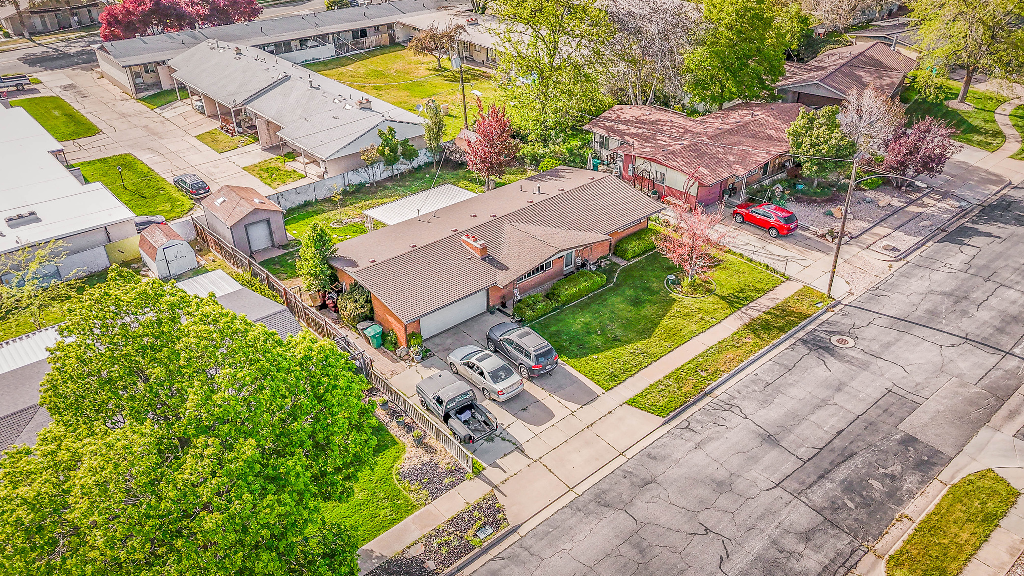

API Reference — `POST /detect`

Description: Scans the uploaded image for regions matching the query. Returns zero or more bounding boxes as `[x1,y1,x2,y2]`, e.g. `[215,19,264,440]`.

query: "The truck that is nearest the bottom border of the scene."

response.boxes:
[409,374,502,446]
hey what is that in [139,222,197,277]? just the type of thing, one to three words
shed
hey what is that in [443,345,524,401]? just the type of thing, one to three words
car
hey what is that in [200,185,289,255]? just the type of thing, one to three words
shed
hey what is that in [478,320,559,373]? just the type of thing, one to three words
car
